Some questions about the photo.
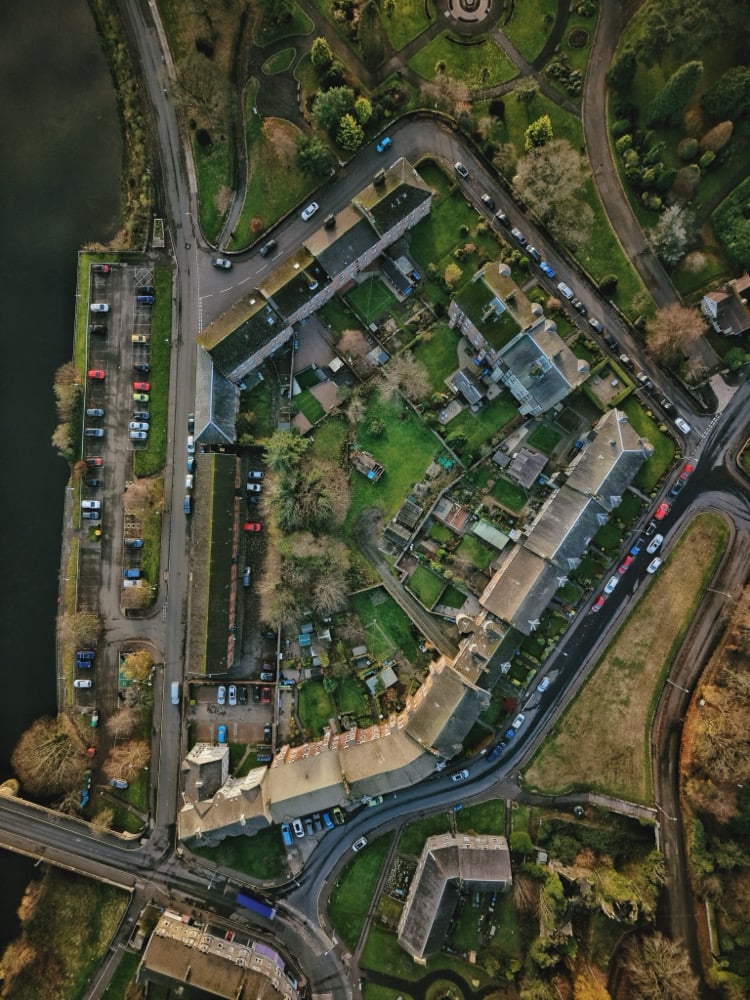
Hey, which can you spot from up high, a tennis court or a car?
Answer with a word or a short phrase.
car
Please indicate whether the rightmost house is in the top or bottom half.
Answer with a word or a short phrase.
top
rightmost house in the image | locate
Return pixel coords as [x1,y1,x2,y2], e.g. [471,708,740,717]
[696,276,750,342]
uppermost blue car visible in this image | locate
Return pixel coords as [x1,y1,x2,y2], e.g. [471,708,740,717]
[375,136,392,150]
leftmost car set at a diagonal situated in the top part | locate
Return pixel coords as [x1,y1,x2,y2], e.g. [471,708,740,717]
[258,239,276,255]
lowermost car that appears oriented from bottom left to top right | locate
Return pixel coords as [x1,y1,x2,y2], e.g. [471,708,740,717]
[350,838,368,854]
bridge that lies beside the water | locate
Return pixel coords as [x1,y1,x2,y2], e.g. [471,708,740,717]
[0,776,132,896]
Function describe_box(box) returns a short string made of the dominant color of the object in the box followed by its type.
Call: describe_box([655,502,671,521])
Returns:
red car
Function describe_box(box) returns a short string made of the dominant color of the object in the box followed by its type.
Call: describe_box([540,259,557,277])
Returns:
blue car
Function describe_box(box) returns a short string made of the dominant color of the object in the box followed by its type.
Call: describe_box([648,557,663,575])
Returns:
white car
